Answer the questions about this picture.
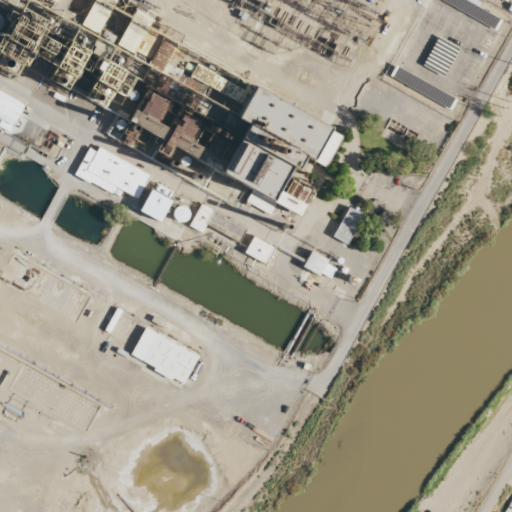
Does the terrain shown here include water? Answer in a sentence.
Yes, water shows up in the scene.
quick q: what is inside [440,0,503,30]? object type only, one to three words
shed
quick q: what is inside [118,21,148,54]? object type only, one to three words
building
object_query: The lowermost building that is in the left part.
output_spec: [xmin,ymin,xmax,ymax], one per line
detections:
[132,327,202,383]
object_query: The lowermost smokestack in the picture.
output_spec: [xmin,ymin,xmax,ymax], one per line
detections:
[278,221,294,233]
